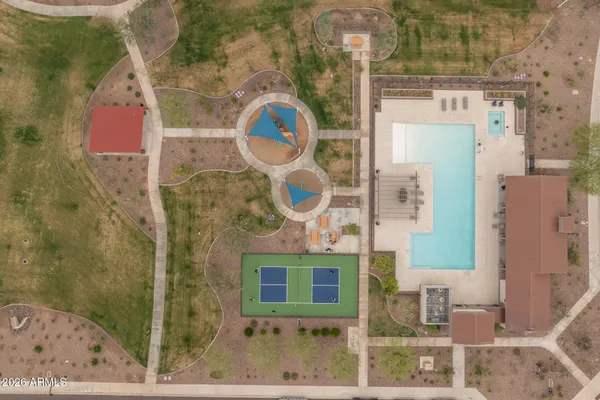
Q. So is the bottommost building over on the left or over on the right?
right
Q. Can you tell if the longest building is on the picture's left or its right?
right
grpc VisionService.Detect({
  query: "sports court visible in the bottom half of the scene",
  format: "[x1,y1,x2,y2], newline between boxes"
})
[241,253,359,317]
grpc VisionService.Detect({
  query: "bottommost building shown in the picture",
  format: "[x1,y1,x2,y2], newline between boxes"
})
[452,305,504,346]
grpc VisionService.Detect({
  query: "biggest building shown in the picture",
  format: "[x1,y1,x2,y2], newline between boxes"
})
[500,176,574,331]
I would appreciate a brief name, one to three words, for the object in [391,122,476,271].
swimming pool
